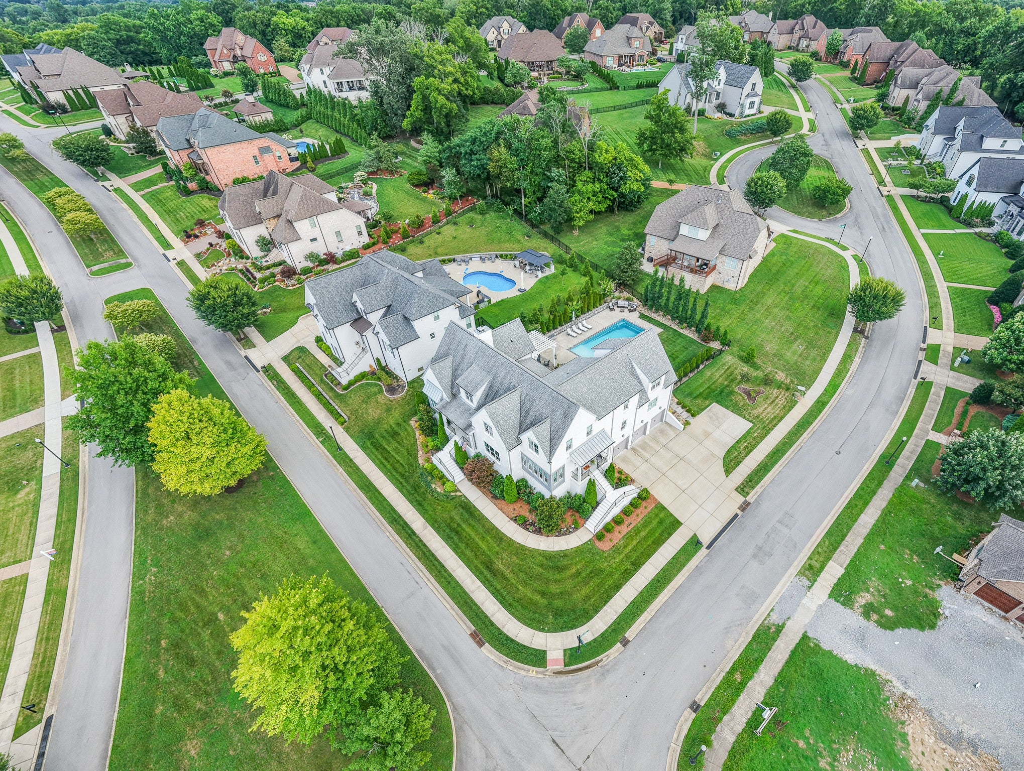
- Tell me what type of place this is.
residential area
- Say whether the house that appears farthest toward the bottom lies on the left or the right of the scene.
right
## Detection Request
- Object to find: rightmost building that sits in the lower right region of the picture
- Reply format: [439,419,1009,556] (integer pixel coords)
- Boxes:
[950,517,1024,640]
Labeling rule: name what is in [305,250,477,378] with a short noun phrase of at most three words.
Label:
house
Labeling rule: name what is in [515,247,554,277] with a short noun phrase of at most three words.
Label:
gazebo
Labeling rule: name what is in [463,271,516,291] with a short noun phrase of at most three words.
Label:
swimming pool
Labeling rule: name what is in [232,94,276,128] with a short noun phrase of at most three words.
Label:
building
